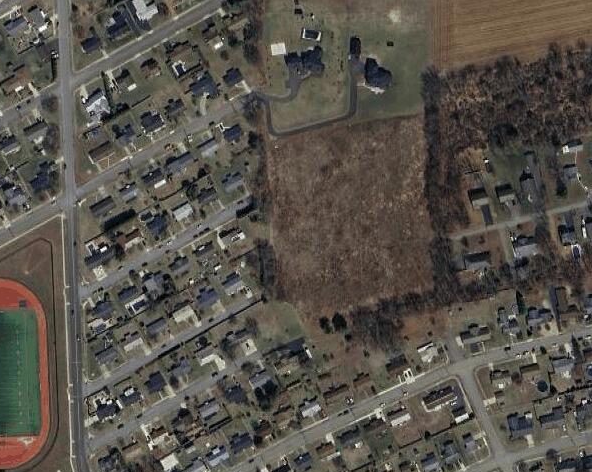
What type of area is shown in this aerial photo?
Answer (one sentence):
The picture captures a residential area.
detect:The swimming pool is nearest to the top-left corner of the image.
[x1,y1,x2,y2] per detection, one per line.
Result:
[172,60,189,78]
